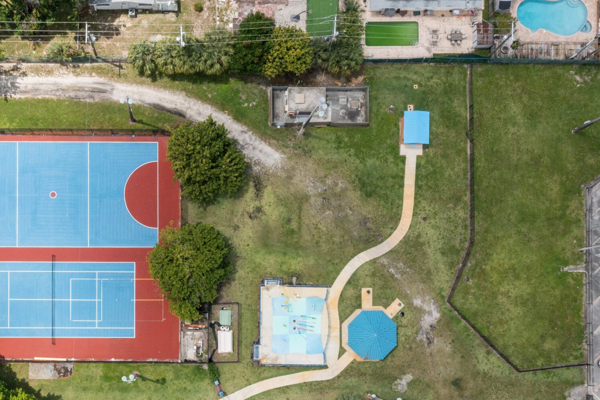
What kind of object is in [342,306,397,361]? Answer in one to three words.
gazebo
